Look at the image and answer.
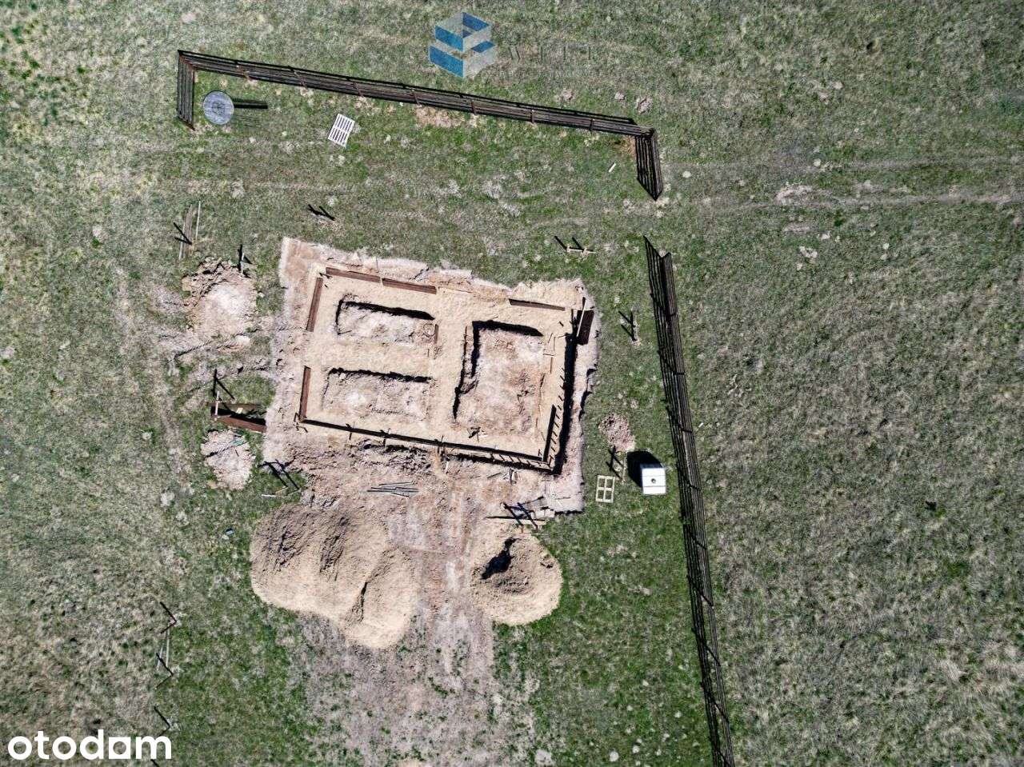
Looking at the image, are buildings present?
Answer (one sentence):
No, I can see no building in this picture.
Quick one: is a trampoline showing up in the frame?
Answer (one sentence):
No, the picture doesn't show any trampoline.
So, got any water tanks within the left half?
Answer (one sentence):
No, no water tank can be made out within the left half.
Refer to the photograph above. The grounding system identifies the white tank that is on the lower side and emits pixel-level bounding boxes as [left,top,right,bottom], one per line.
[638,465,665,495]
